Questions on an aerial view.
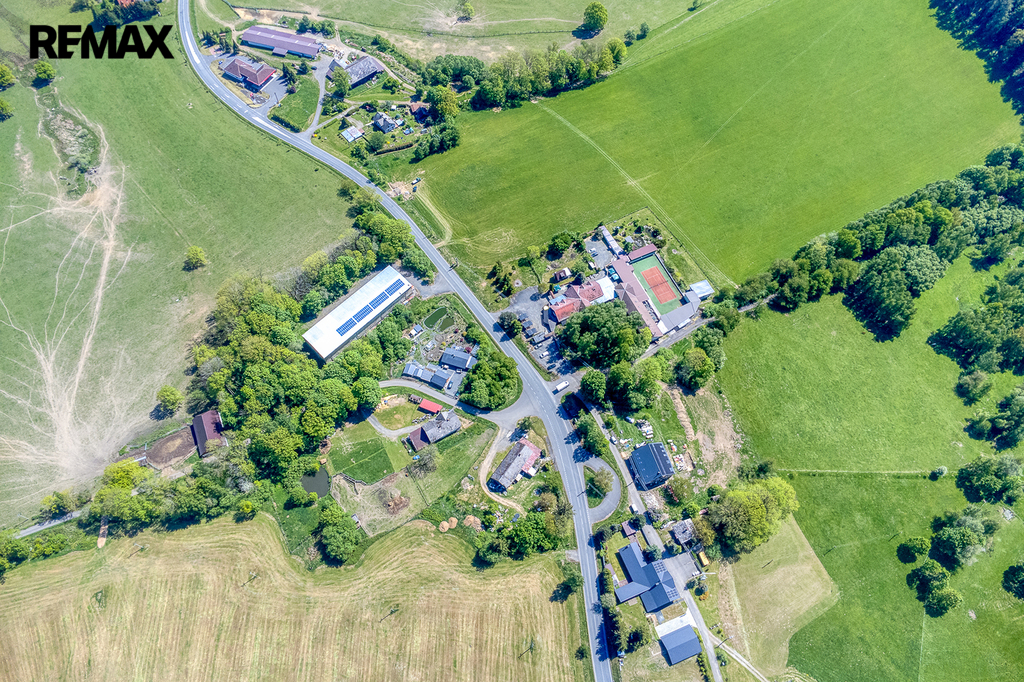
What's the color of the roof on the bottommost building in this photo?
blue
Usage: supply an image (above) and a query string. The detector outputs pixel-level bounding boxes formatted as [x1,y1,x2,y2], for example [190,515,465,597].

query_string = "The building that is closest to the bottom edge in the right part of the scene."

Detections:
[660,625,702,664]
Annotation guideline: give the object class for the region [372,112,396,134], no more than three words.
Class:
house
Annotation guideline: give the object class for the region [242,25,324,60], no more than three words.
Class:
barn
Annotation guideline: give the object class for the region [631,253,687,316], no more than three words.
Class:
tennis court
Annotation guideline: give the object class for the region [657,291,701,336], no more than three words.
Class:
building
